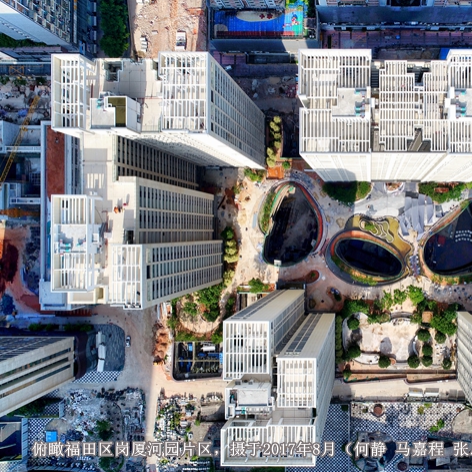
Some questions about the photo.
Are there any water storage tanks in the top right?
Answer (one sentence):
No, no water storage tank appears in the top right.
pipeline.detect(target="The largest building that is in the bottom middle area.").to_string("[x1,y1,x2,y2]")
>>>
[223,291,337,465]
